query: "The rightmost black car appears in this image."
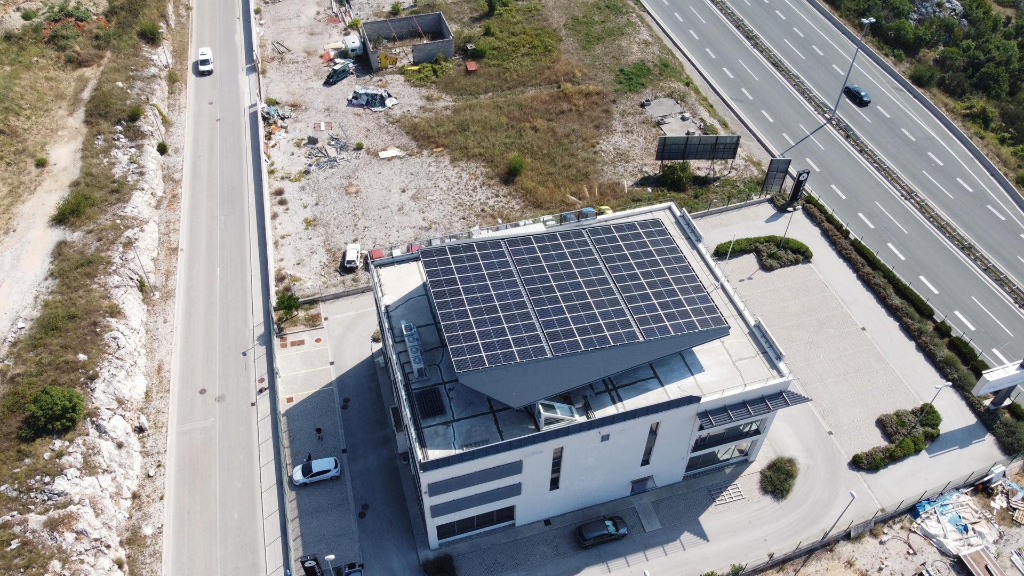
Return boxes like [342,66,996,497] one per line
[844,89,870,108]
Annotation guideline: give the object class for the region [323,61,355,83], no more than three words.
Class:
vehicle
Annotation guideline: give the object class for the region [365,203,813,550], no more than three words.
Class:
building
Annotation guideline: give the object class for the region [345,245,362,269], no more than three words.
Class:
car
